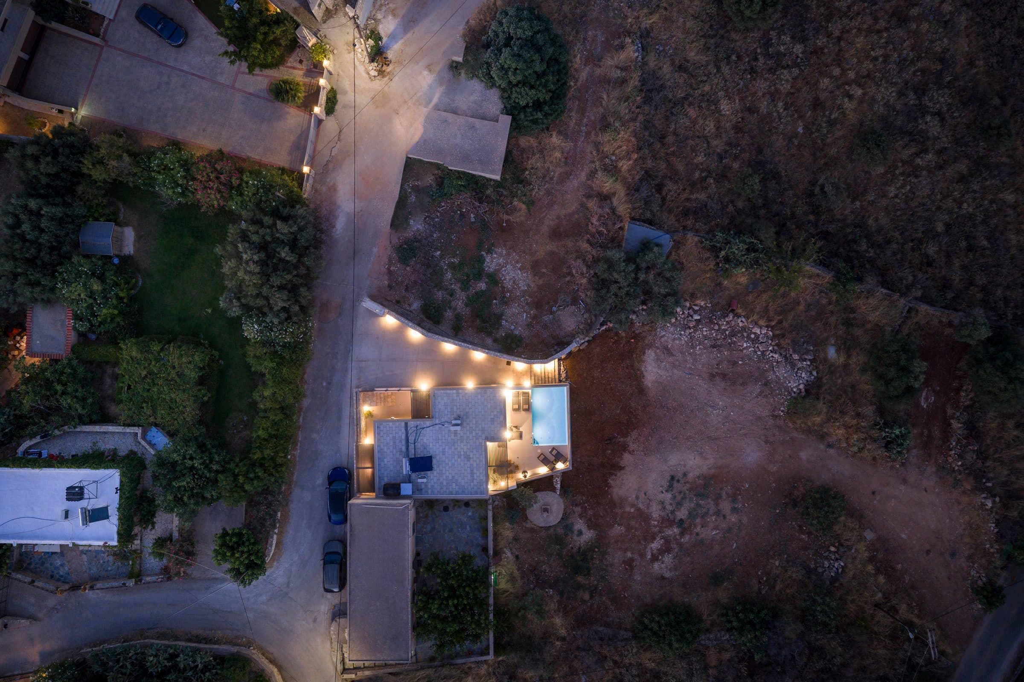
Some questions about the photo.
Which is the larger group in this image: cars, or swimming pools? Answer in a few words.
cars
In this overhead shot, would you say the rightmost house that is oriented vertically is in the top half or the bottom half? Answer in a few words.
bottom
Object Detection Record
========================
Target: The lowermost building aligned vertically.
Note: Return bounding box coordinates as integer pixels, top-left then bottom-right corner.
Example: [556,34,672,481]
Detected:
[348,496,419,661]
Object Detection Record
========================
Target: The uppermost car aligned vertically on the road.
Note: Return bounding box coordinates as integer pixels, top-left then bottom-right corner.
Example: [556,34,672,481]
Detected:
[321,468,348,527]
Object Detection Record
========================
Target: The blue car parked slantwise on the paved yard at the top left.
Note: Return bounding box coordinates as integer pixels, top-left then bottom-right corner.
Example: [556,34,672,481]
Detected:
[127,0,185,44]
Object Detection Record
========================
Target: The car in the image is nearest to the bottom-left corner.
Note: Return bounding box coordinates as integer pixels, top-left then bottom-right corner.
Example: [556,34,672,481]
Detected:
[317,541,344,595]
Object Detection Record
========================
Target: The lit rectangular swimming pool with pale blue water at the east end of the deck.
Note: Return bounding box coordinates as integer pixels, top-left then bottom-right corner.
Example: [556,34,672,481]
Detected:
[532,386,568,446]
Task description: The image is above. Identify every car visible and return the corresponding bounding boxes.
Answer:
[321,468,348,527]
[127,0,185,44]
[317,541,344,595]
